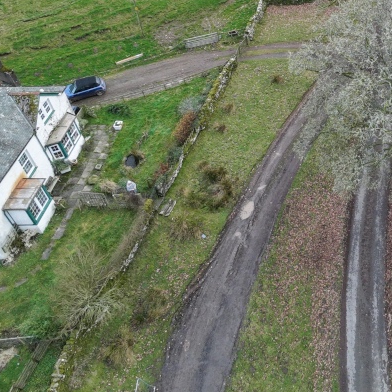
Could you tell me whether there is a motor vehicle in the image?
Yes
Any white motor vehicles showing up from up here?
No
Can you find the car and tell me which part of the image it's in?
top left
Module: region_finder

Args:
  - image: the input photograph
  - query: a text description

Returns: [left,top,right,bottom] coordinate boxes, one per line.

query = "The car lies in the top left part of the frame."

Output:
[67,75,107,104]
